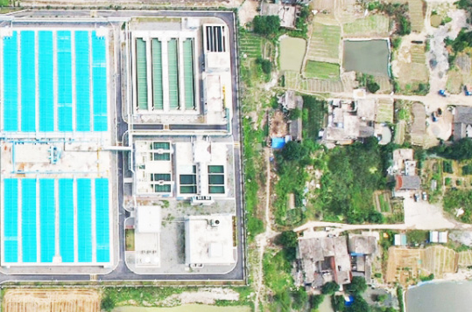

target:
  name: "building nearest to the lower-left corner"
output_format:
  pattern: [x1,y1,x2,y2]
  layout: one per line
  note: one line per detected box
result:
[134,233,160,268]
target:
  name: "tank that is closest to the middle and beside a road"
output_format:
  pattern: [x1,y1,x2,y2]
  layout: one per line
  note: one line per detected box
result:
[174,135,229,200]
